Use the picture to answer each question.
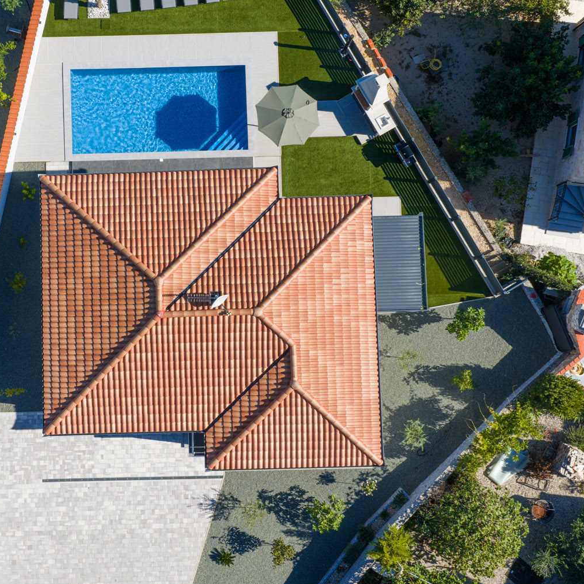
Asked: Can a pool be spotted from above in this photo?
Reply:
Yes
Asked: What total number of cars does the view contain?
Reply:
0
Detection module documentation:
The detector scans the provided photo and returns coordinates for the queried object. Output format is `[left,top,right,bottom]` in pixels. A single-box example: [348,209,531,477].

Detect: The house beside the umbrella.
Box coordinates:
[38,165,386,473]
